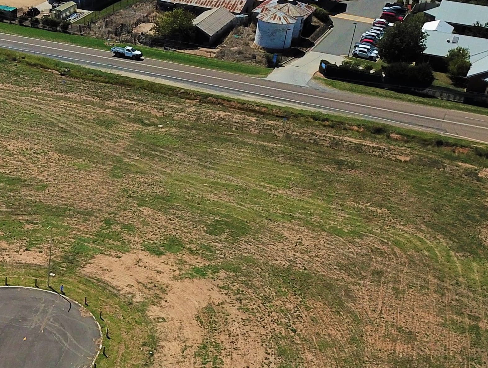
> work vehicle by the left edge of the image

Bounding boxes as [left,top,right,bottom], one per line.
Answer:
[22,5,46,18]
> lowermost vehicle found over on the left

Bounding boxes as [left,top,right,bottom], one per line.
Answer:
[110,43,146,60]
